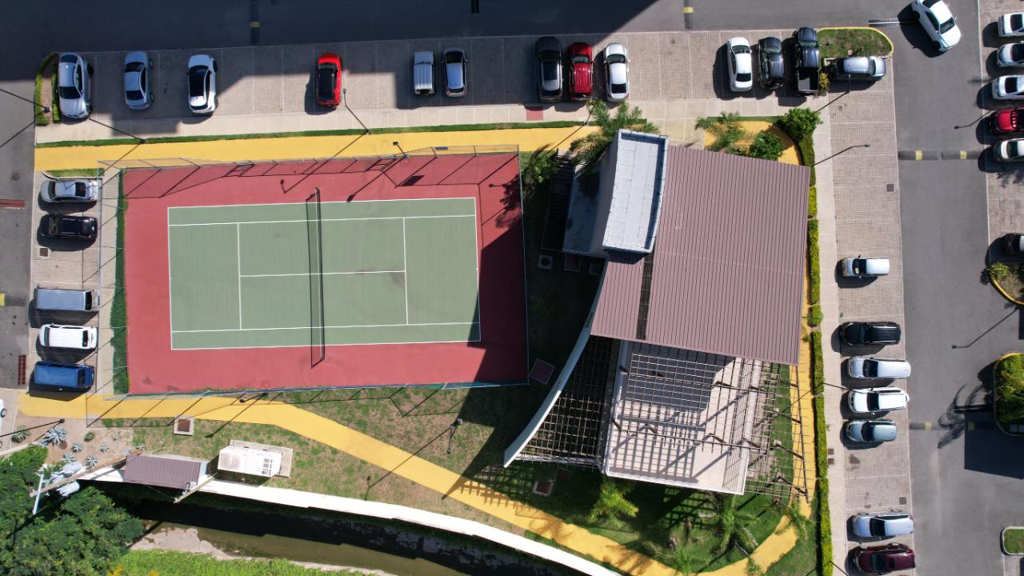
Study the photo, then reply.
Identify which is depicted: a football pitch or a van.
van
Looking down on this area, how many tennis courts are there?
one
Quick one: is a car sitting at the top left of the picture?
Yes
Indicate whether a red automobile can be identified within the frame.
Yes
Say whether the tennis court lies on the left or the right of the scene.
left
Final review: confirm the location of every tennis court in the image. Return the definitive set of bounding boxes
[121,153,528,394]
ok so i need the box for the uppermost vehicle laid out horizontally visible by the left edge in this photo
[39,176,99,204]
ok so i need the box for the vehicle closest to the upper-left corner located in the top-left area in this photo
[54,51,90,118]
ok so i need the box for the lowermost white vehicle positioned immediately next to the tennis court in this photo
[40,322,99,351]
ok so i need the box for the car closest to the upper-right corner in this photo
[997,12,1024,39]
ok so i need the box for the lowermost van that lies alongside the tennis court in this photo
[34,362,99,391]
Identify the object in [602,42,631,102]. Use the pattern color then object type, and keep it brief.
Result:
white car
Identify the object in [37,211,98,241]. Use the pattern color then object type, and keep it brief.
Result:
black car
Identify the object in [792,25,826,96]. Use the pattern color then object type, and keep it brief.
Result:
black truck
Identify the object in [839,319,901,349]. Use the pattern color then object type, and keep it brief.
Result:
black car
